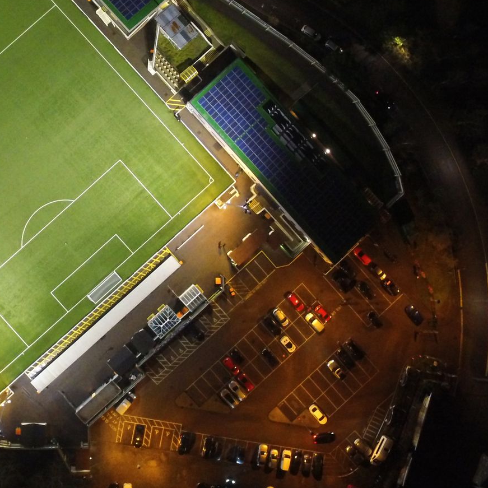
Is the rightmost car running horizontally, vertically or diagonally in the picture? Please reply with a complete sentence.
I'd say the rightmost car is aligned diagonally in the picture.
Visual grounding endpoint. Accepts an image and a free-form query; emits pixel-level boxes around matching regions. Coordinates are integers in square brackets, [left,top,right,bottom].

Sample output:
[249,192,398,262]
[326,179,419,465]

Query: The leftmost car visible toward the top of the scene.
[300,25,322,43]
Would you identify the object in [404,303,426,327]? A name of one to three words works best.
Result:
car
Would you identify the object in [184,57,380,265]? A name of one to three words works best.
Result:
building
